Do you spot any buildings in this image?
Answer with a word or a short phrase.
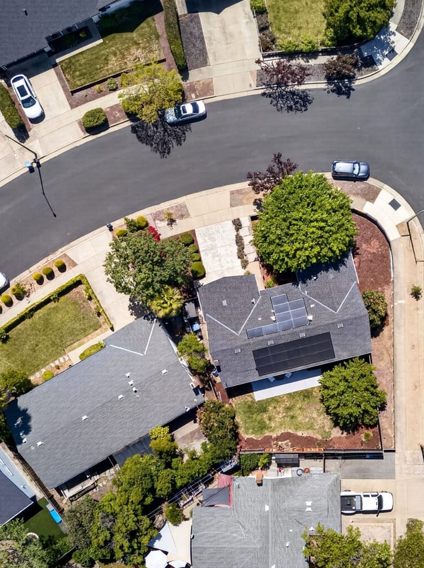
Yes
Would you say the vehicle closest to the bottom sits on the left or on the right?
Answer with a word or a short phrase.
right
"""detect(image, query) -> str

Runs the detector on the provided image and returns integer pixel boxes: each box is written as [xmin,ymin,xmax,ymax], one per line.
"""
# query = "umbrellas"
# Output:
[169,559,187,567]
[146,548,168,568]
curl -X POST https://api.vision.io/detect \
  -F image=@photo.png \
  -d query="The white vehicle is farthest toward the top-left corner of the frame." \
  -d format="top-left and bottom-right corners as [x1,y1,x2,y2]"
[11,73,44,121]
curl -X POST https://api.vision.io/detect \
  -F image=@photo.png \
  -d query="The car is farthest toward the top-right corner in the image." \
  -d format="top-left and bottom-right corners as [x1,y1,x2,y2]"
[331,161,370,181]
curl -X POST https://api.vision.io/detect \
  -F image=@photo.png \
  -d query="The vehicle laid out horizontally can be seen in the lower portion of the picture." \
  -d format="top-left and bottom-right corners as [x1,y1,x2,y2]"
[341,491,393,514]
